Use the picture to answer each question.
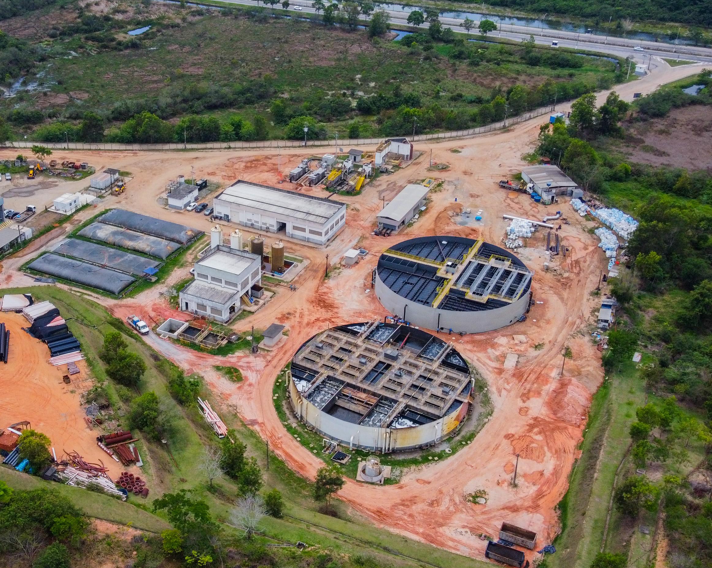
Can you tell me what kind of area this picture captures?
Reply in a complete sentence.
What you see here is an industrial area.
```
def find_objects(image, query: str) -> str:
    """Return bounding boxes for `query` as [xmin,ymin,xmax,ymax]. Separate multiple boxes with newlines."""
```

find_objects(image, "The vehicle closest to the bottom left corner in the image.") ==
[125,310,150,331]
